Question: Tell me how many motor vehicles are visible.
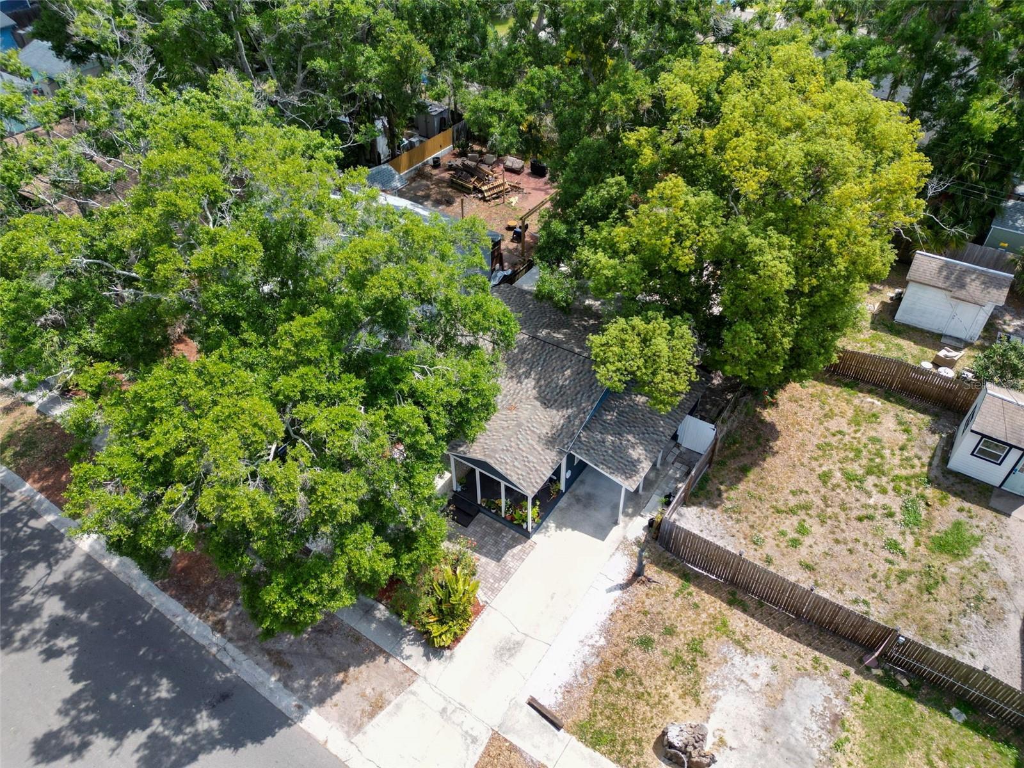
zero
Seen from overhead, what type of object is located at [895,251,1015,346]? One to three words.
shed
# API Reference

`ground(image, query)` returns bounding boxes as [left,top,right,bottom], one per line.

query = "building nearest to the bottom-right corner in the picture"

[949,367,1024,495]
